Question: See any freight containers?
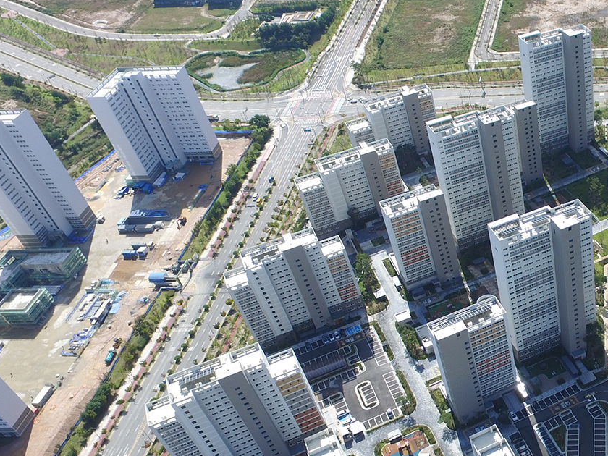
Yes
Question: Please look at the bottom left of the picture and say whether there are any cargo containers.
Yes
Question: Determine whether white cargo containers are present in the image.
Yes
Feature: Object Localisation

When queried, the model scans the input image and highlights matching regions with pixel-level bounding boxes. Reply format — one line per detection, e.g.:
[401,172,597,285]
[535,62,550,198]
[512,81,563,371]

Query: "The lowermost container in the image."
[26,378,53,407]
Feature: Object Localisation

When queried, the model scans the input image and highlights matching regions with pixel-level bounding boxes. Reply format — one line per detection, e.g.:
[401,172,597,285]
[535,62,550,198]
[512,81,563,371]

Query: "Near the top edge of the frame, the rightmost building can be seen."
[521,19,594,157]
